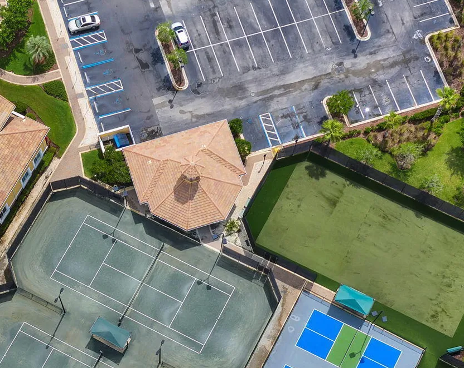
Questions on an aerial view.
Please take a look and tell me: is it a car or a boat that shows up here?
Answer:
car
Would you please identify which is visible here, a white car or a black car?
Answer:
white car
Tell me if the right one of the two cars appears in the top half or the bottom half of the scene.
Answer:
top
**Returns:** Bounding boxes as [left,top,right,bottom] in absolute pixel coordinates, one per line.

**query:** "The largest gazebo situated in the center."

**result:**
[123,119,246,236]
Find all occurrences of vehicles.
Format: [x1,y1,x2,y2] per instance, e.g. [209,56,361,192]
[69,15,101,33]
[171,22,192,48]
